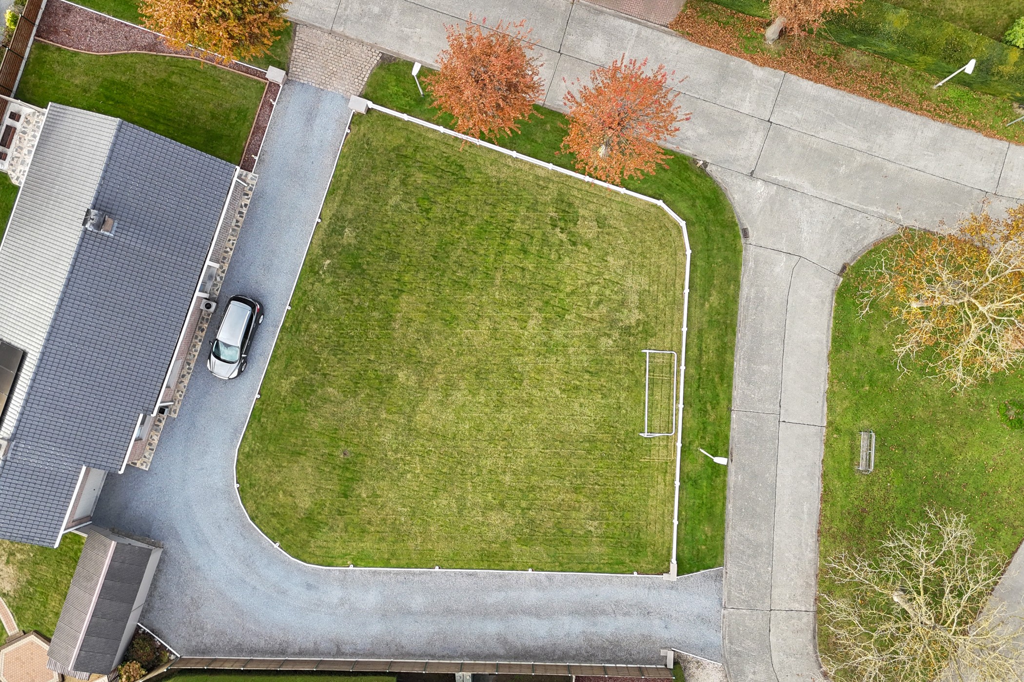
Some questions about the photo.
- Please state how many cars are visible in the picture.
1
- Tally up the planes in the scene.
0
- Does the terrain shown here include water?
No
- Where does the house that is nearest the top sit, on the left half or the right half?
left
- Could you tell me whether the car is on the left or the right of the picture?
left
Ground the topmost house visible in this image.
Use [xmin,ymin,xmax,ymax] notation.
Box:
[0,101,246,551]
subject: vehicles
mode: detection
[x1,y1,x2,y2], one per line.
[205,293,264,382]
